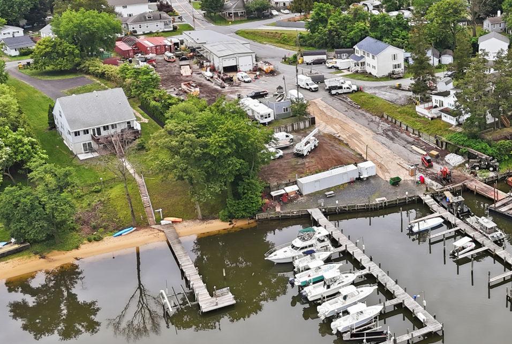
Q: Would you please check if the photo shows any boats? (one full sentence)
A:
Yes, the picture does show a boat.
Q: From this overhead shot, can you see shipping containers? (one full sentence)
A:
Yes, a shipping container can be made out from above.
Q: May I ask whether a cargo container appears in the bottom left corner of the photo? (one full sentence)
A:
No, no cargo container is visible in the bottom left corner of the photo.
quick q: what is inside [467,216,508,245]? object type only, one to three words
boat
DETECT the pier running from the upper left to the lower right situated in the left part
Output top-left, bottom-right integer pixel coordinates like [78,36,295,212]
[157,222,237,317]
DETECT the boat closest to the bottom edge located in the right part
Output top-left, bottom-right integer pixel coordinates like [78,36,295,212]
[343,328,397,344]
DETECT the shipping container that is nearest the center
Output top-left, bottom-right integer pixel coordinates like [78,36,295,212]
[296,161,358,196]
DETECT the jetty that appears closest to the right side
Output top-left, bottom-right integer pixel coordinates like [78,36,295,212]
[406,191,512,301]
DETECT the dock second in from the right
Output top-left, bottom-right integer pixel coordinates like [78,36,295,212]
[312,204,446,344]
